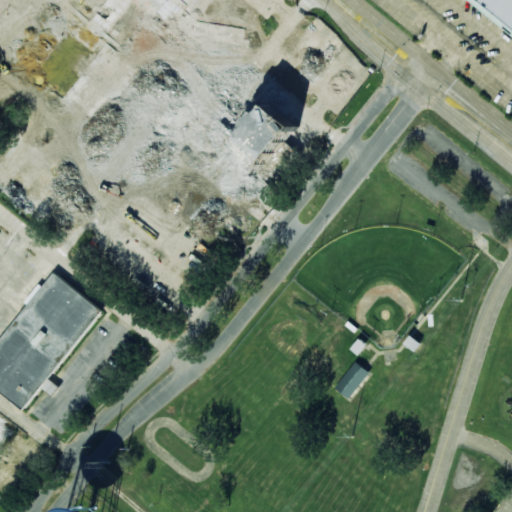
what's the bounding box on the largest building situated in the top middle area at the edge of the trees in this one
[227,104,300,174]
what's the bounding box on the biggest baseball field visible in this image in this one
[295,227,466,348]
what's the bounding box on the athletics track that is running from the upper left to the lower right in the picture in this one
[146,418,214,482]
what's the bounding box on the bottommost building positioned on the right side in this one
[336,362,369,398]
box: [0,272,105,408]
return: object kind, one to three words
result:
building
